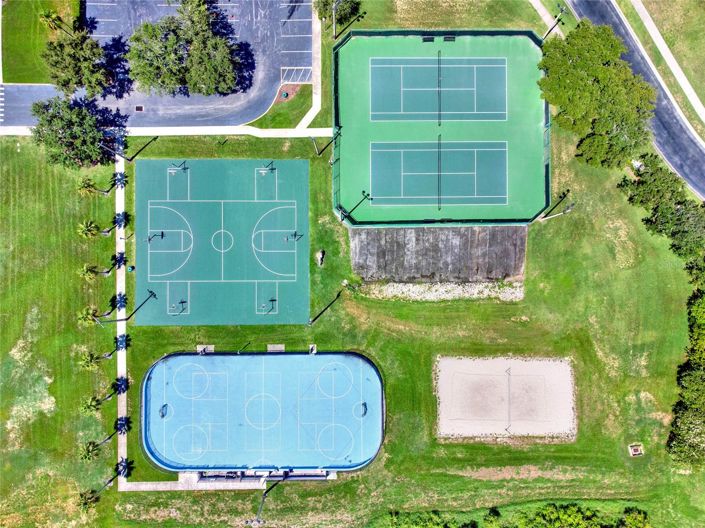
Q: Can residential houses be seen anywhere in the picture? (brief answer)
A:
No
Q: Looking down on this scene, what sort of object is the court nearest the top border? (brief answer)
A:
tennis court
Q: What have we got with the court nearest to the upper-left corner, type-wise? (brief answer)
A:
basketball court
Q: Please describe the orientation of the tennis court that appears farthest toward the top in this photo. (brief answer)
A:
horizontally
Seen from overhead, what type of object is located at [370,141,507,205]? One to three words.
tennis court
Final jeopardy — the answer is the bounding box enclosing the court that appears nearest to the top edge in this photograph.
[370,57,507,120]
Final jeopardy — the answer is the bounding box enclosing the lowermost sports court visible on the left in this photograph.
[138,356,383,474]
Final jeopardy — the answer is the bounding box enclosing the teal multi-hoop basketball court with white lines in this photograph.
[135,160,310,326]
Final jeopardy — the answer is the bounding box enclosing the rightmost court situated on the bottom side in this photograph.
[437,357,576,438]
